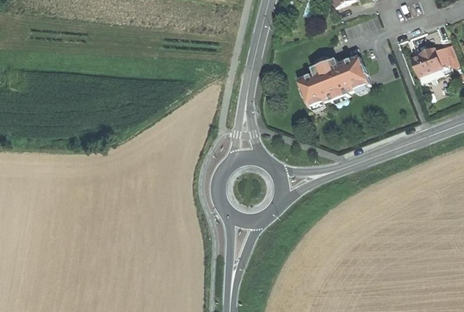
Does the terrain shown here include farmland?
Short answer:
Yes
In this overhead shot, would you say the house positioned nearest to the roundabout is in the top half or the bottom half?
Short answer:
top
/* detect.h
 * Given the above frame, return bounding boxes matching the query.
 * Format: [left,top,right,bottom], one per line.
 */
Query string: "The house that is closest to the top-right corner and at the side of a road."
[411,34,461,85]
